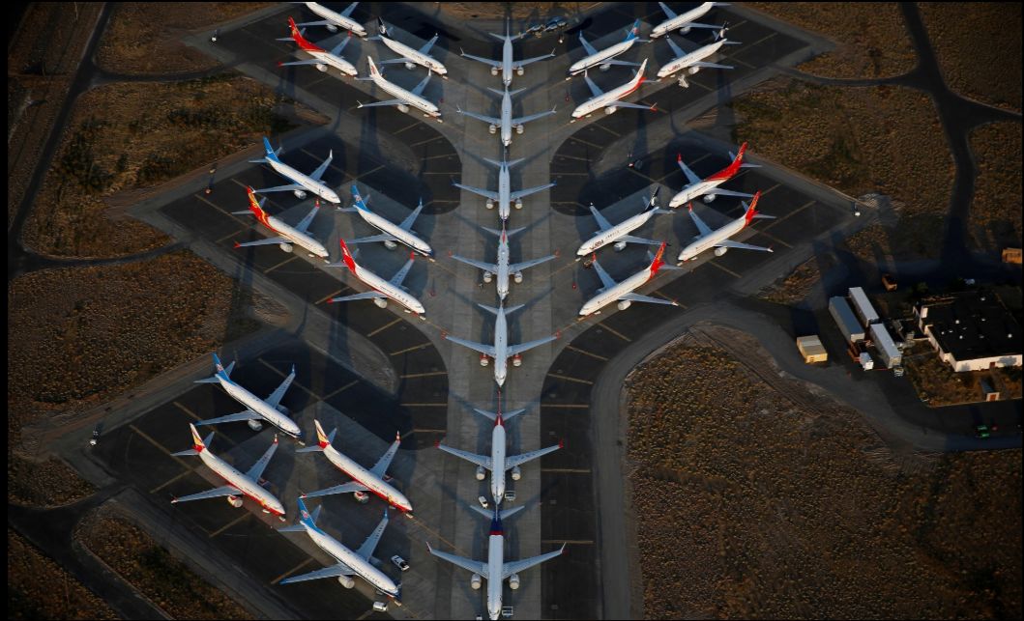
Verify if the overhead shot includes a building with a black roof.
Yes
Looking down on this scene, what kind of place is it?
airport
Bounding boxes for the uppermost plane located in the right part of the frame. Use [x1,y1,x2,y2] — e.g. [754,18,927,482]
[650,0,730,38]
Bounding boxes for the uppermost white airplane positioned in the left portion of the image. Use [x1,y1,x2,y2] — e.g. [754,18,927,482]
[292,0,369,38]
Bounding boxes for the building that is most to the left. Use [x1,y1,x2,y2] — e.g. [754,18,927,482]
[799,338,830,363]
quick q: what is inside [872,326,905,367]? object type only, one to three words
trailer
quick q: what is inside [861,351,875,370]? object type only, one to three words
vehicle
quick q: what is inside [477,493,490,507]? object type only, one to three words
vehicle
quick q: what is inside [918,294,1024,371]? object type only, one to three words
building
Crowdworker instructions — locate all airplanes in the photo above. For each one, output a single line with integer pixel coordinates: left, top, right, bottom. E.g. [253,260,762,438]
[233,188,328,258]
[325,240,425,315]
[292,0,369,38]
[278,498,400,599]
[462,25,554,87]
[172,424,285,516]
[650,0,730,38]
[669,142,760,209]
[678,191,775,262]
[458,73,555,147]
[195,353,302,439]
[278,18,357,76]
[250,138,341,204]
[447,209,559,302]
[442,292,560,388]
[566,20,650,76]
[355,56,439,117]
[578,188,675,259]
[452,149,557,224]
[573,59,659,119]
[338,186,436,256]
[657,22,740,79]
[367,18,450,75]
[427,491,566,619]
[297,421,413,513]
[580,242,681,318]
[434,397,563,505]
